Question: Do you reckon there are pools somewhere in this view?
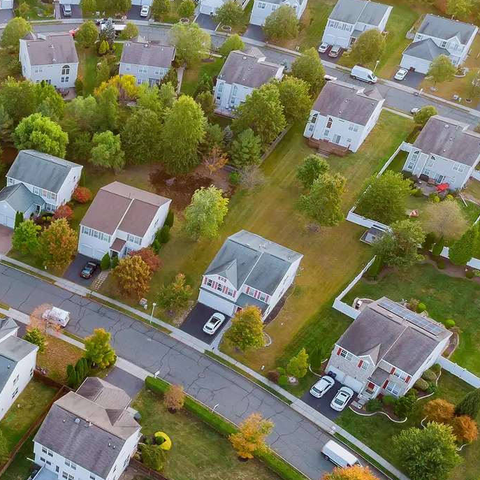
No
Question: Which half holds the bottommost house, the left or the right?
left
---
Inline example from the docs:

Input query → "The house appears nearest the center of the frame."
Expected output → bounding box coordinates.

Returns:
[202,230,304,320]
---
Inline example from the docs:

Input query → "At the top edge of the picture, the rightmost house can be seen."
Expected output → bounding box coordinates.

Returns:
[398,15,480,69]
